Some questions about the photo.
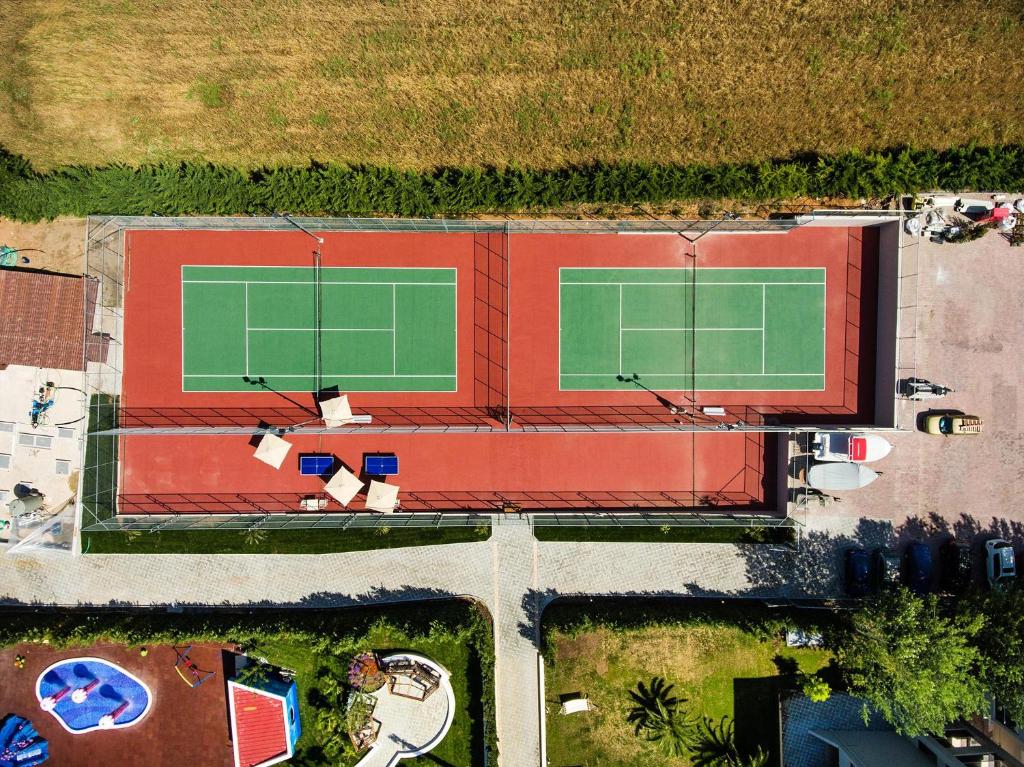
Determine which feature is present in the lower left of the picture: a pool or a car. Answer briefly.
pool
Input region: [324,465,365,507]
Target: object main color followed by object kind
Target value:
white umbrella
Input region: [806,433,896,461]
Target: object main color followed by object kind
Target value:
white boat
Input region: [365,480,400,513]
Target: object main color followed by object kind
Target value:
white umbrella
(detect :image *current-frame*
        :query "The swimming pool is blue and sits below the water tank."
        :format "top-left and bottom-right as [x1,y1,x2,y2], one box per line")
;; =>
[35,656,154,734]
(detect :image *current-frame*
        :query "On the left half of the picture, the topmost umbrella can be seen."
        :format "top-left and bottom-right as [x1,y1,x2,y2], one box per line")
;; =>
[319,394,353,429]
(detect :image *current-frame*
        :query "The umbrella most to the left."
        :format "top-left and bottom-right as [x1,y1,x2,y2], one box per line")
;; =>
[253,433,293,470]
